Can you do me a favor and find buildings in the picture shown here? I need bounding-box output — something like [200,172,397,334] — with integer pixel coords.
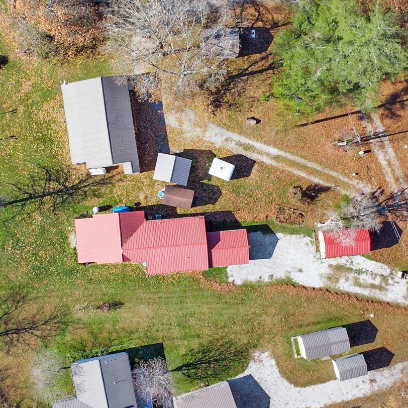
[199,28,240,61]
[177,381,236,408]
[319,229,371,258]
[153,153,192,186]
[332,352,368,382]
[74,211,250,275]
[208,158,235,181]
[61,76,140,174]
[162,185,194,209]
[296,326,350,360]
[52,352,138,408]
